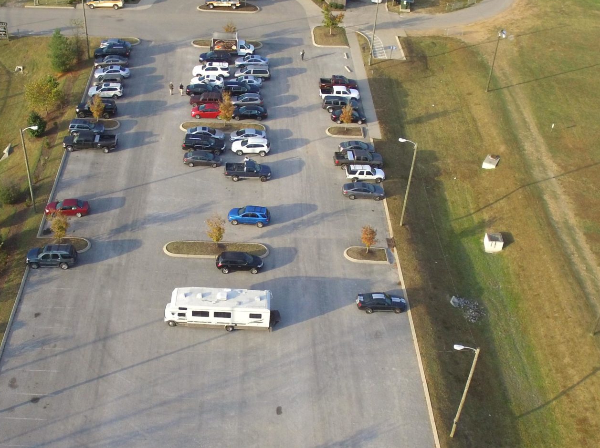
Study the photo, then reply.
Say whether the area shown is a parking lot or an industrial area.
parking lot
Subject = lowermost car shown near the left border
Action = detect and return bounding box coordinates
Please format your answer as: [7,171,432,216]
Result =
[26,243,81,268]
